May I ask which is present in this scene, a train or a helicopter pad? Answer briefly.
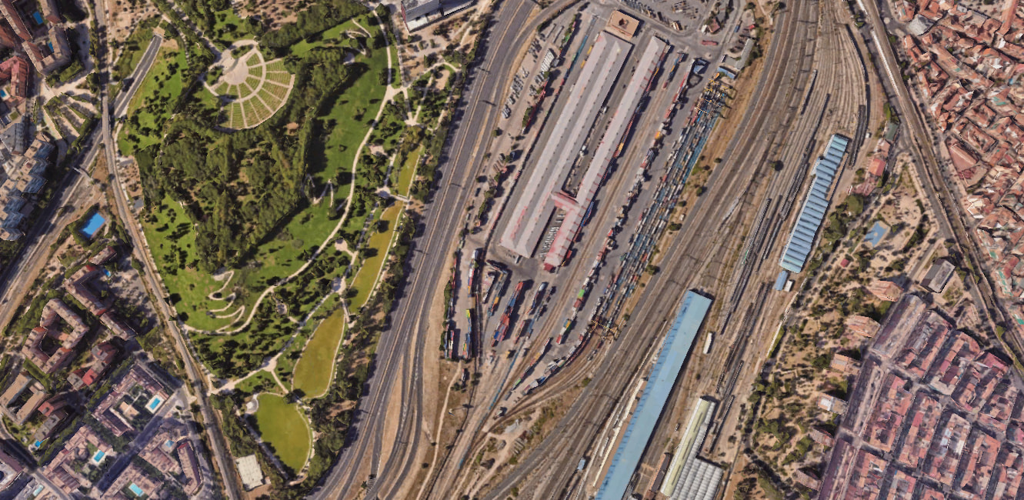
train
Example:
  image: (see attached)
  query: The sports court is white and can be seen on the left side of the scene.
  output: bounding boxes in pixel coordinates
[235,454,263,491]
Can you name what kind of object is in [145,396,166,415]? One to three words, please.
swimming pool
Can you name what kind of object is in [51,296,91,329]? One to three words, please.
building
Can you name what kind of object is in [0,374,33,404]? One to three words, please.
building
